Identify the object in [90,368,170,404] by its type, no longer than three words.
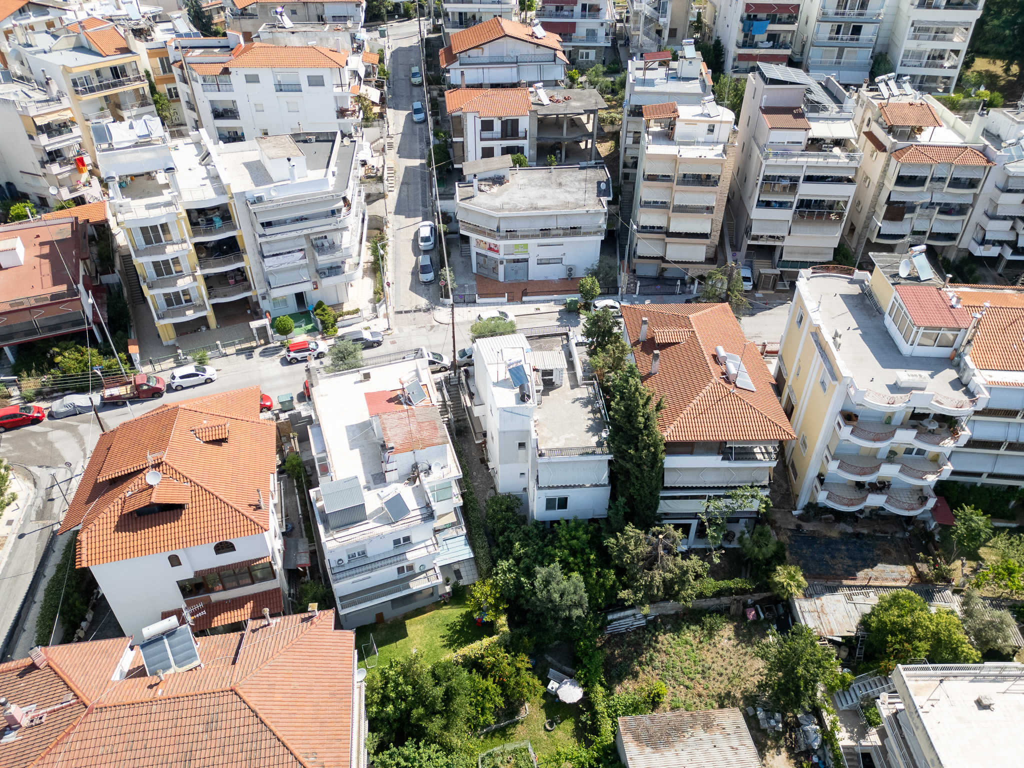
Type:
truck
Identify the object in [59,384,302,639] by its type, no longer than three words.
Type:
house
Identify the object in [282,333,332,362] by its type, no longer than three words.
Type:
car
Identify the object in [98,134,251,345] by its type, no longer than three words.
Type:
building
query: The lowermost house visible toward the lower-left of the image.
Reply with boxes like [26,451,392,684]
[0,606,368,768]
